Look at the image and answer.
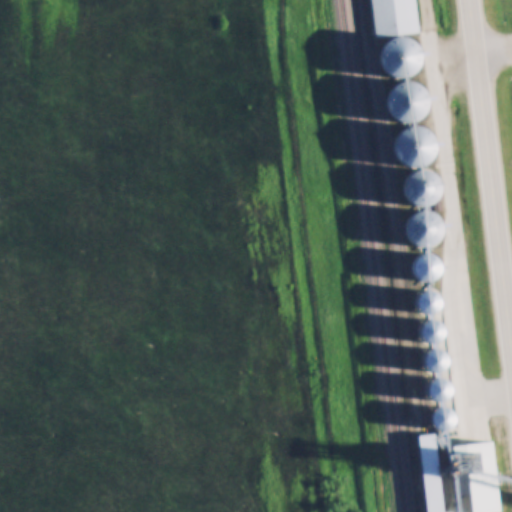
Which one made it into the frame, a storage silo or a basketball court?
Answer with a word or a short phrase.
storage silo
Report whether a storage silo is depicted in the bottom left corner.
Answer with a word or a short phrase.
No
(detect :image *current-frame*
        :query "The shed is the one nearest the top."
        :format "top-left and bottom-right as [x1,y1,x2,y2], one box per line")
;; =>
[372,0,418,37]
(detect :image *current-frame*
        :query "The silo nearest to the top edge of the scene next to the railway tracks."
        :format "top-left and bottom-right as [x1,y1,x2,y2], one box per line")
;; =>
[380,37,424,81]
